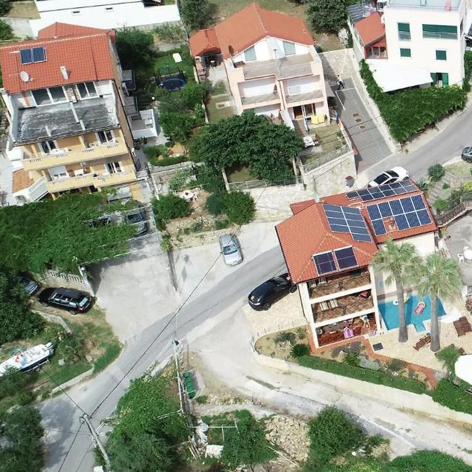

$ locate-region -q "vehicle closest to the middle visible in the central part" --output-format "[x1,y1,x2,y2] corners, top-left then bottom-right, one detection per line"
[216,226,242,262]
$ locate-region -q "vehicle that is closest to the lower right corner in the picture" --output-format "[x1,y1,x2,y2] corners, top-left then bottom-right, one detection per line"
[243,265,295,305]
